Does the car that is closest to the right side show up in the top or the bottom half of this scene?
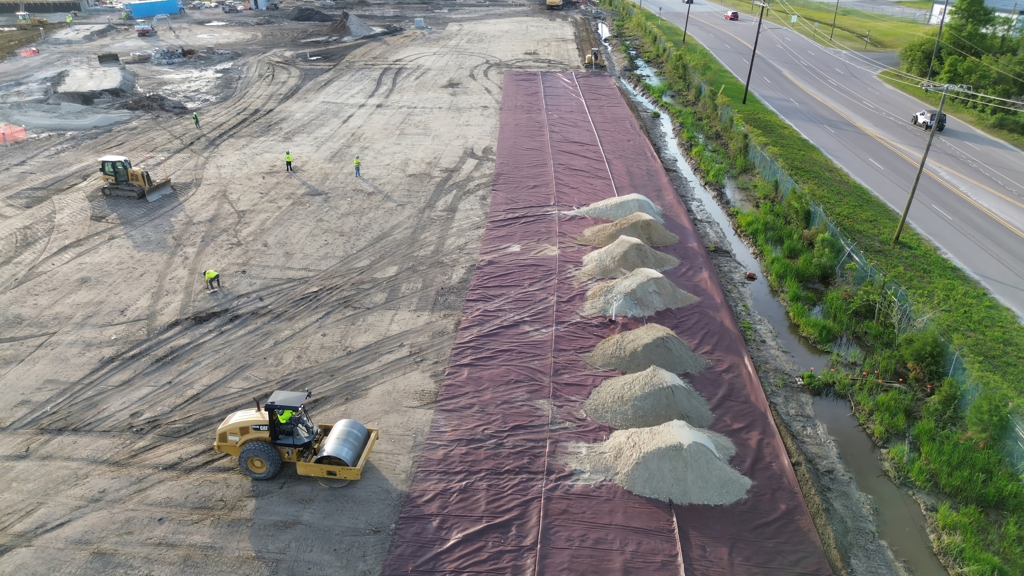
top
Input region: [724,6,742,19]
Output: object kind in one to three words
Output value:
vehicle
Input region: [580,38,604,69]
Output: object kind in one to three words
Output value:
work vehicle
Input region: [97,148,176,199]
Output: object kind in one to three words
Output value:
work vehicle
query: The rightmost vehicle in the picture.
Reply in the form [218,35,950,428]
[911,109,946,129]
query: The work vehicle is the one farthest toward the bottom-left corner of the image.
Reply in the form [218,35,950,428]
[212,384,377,487]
